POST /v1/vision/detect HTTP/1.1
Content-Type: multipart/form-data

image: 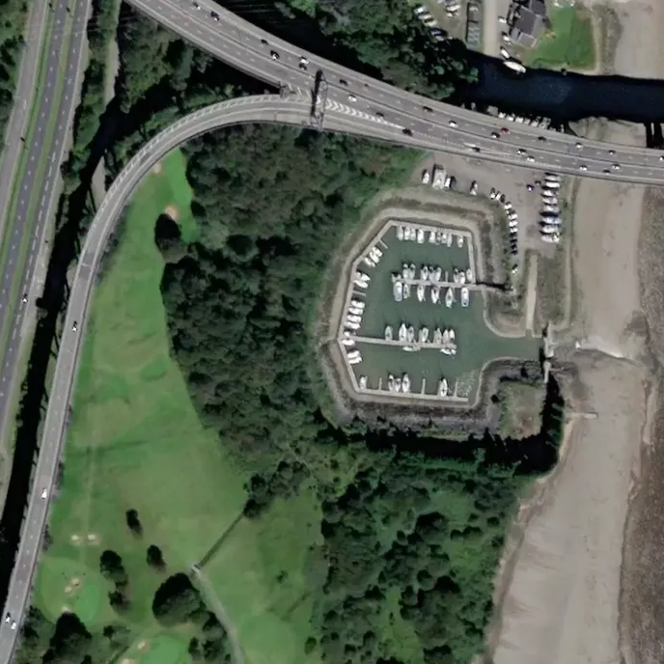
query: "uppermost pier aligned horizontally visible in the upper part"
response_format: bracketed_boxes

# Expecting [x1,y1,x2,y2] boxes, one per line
[391,222,471,247]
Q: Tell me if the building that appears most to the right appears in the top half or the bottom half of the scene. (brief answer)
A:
top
